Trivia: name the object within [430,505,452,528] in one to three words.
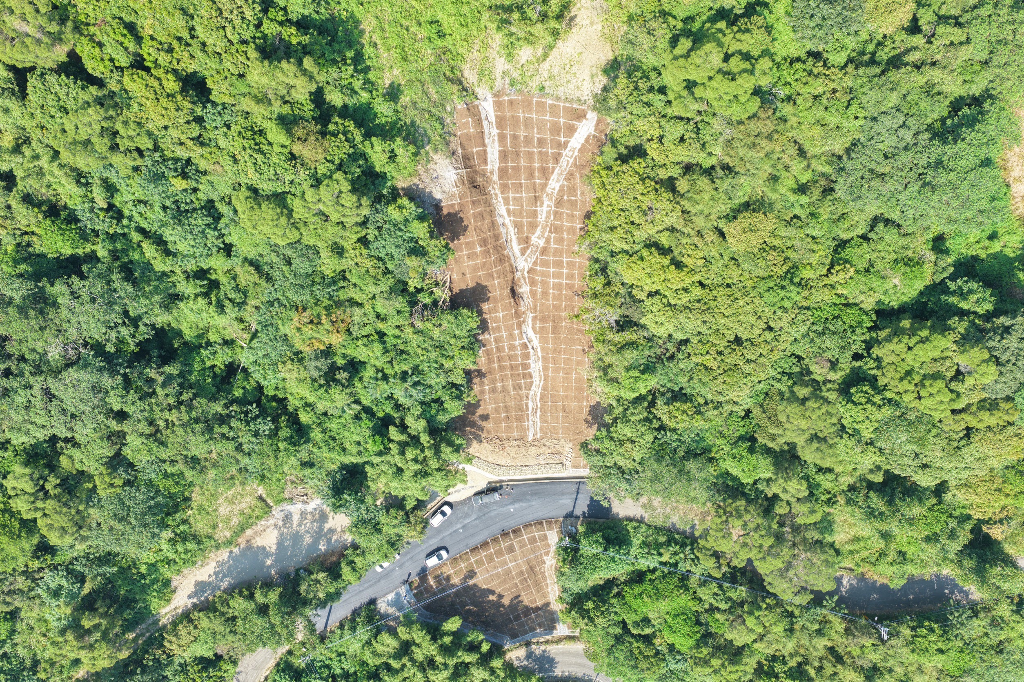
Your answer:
car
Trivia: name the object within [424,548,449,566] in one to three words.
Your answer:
car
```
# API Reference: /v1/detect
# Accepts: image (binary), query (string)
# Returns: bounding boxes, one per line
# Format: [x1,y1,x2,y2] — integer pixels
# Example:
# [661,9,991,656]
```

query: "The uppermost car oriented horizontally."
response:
[471,491,499,506]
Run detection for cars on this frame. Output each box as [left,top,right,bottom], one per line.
[471,491,499,506]
[430,505,452,528]
[424,548,449,566]
[376,552,401,572]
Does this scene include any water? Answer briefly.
No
